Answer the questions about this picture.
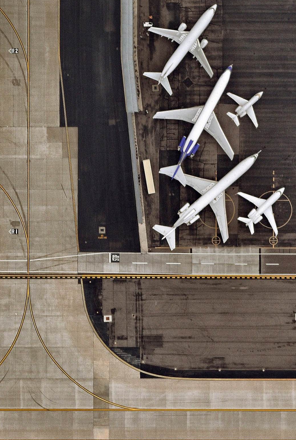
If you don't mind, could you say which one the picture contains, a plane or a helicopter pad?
plane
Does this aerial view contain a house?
No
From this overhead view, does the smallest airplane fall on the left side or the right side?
right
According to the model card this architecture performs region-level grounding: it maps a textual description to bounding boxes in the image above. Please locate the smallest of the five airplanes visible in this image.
[226,91,263,128]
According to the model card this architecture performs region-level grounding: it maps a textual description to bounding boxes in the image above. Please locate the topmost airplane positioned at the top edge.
[143,4,218,94]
